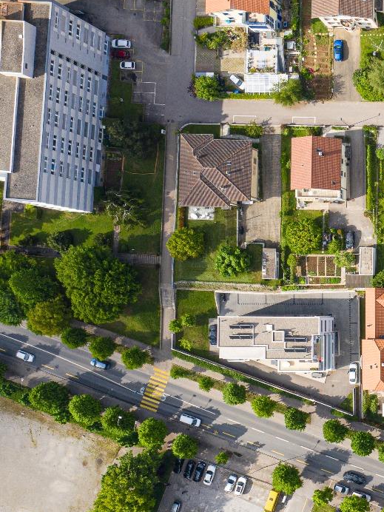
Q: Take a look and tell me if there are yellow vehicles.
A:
Yes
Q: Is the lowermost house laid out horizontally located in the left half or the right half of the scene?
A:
right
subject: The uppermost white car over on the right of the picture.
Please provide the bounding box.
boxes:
[228,73,244,90]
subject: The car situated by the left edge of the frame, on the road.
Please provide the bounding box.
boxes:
[14,348,38,363]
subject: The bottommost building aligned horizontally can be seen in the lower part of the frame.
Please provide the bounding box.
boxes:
[217,316,342,371]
